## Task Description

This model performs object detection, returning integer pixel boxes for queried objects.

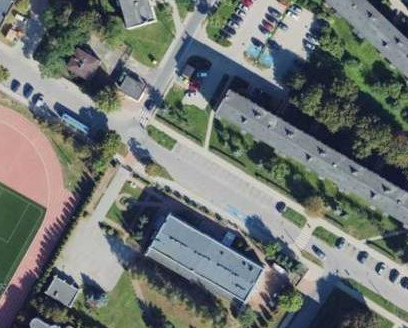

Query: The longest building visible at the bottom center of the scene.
[148,214,263,305]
